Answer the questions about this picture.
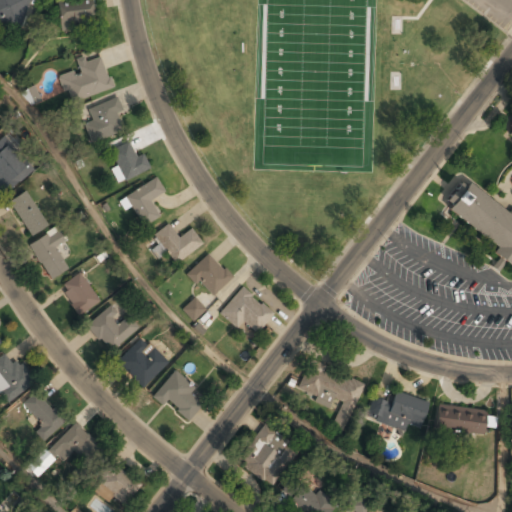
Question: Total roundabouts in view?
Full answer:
There are no roundabouts in the image.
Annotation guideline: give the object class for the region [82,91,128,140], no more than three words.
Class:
house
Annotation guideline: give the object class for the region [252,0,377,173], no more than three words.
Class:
sports field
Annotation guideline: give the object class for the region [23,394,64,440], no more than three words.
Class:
house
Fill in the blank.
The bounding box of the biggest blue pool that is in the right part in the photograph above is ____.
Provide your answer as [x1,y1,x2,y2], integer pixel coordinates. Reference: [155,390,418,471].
[378,446,400,461]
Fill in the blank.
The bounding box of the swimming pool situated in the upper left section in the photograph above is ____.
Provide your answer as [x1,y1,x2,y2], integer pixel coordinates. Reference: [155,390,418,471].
[43,70,58,94]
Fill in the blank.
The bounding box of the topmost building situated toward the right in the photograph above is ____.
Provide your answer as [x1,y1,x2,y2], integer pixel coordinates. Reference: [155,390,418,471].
[448,181,512,272]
